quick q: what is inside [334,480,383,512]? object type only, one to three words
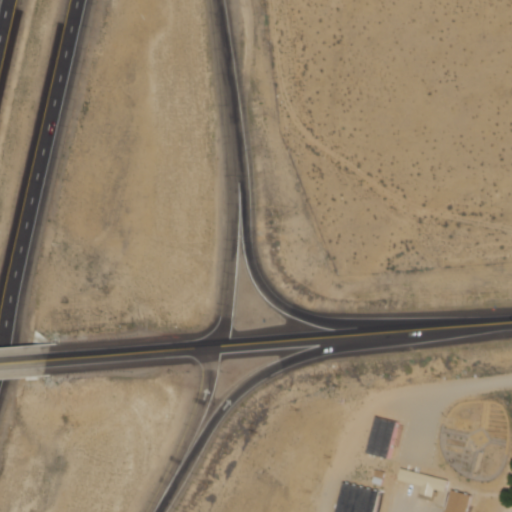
barn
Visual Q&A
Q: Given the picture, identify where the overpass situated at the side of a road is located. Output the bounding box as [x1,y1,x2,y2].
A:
[0,330,56,380]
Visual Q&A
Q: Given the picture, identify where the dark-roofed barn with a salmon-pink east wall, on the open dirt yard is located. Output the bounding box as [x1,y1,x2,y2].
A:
[366,415,403,458]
